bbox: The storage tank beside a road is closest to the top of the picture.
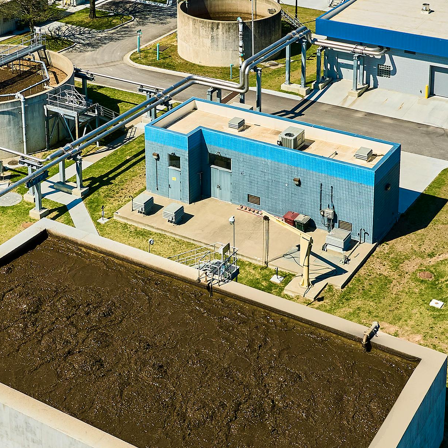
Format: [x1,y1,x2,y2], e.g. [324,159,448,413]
[175,0,325,70]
